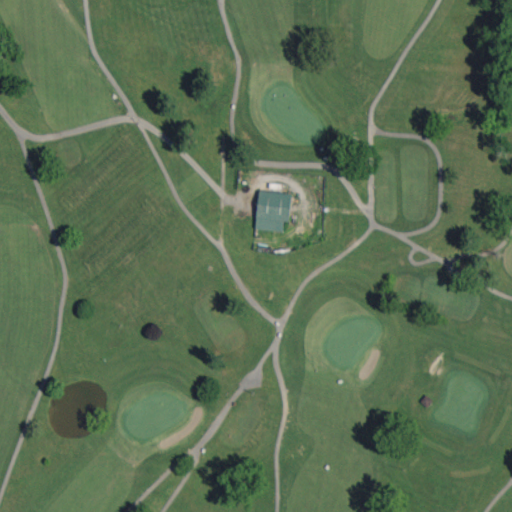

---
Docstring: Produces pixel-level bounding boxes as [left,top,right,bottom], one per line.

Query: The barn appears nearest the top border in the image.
[256,191,292,232]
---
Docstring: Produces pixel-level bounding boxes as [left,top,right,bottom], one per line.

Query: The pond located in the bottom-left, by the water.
[49,380,108,438]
